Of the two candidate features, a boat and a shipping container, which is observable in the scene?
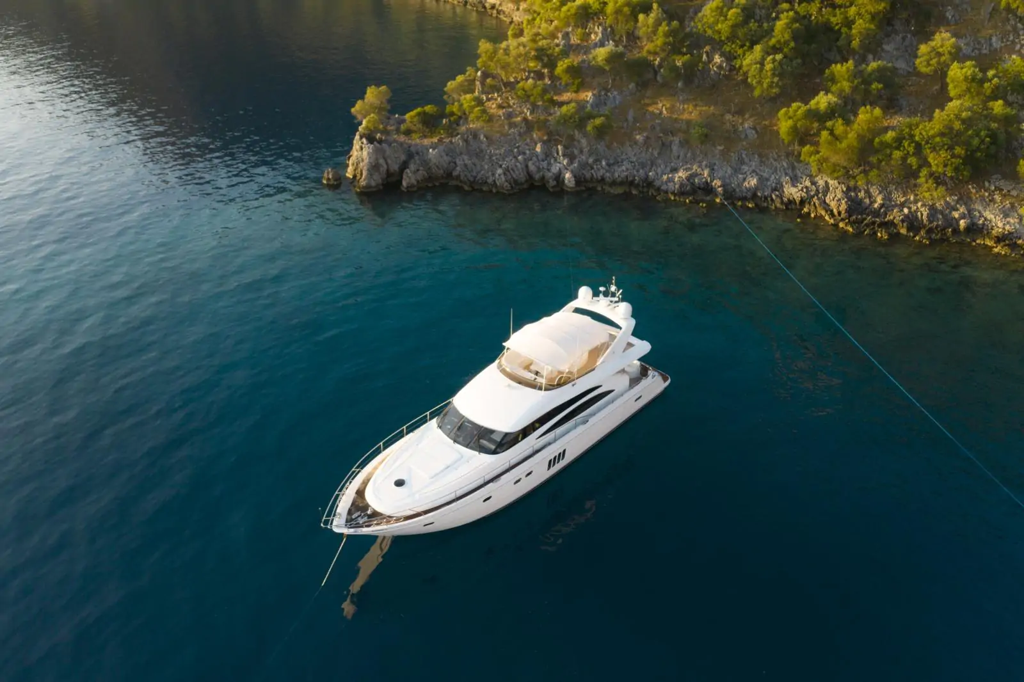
boat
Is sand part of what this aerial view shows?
No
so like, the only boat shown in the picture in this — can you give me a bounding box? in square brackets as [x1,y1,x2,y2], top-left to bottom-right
[321,279,671,544]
